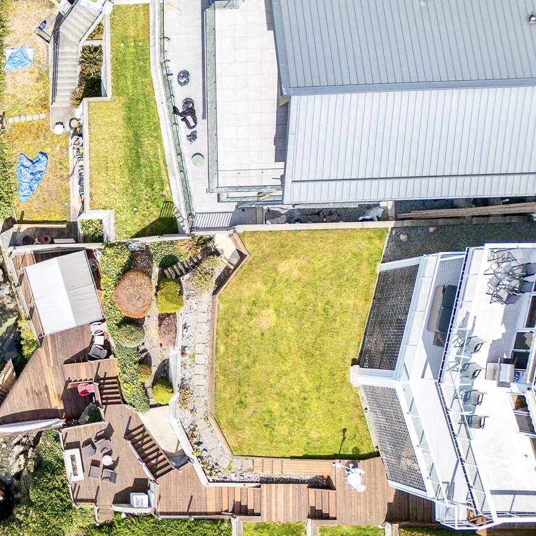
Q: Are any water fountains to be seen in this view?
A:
No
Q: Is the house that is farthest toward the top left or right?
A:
right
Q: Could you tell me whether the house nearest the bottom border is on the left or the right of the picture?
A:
right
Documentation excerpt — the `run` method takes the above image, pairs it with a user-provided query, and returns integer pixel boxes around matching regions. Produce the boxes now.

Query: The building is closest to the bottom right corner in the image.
[354,243,536,535]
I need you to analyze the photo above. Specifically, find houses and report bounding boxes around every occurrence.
[354,243,536,535]
[201,0,536,212]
